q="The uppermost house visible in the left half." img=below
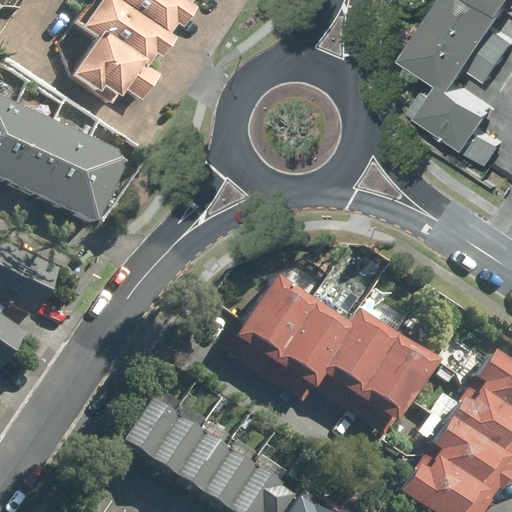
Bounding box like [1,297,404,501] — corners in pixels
[74,0,198,103]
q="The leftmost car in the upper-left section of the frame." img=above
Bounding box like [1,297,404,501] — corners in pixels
[46,12,70,38]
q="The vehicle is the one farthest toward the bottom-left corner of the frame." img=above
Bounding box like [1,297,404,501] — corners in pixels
[2,488,26,512]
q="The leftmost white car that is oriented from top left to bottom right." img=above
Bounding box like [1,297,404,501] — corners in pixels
[448,248,476,272]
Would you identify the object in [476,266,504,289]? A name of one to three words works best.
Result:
car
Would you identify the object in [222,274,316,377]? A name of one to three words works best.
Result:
house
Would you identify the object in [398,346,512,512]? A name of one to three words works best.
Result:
building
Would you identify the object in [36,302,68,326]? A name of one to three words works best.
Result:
truck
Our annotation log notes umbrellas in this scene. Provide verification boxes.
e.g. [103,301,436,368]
[453,350,464,361]
[36,103,50,116]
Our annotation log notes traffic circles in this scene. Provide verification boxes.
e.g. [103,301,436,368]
[248,82,341,175]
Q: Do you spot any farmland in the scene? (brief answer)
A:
No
